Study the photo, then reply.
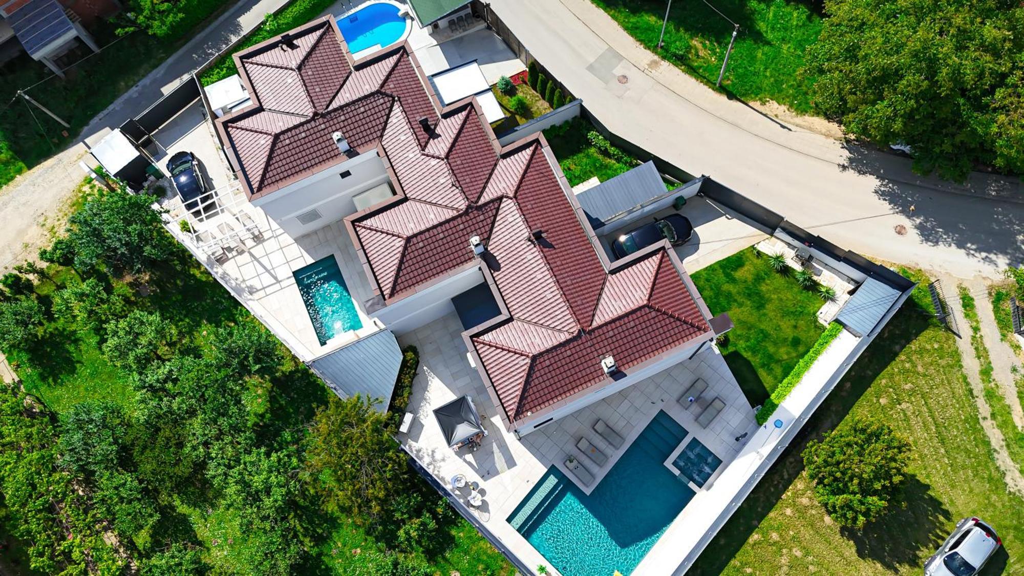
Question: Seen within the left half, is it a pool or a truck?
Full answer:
There is a pool within the left half.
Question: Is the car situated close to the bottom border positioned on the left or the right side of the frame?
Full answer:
The car situated close to the bottom border sits on the right side.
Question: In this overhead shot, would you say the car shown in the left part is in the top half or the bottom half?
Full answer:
You can find the car shown in the left part in the top half.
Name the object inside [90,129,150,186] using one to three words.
shed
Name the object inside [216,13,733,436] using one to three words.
house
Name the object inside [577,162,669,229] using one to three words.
shed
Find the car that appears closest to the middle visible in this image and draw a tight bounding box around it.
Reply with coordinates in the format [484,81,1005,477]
[616,216,695,260]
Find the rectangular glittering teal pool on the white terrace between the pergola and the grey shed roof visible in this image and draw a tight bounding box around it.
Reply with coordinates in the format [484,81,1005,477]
[293,255,359,346]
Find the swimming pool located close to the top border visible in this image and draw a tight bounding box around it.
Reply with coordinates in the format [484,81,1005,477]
[333,0,410,61]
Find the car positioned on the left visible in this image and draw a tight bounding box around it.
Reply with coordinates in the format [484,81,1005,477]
[165,148,211,214]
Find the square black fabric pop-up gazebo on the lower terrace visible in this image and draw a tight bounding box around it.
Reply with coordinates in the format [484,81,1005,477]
[433,394,491,447]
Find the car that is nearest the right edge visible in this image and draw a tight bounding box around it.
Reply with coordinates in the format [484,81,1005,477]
[925,520,1005,576]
